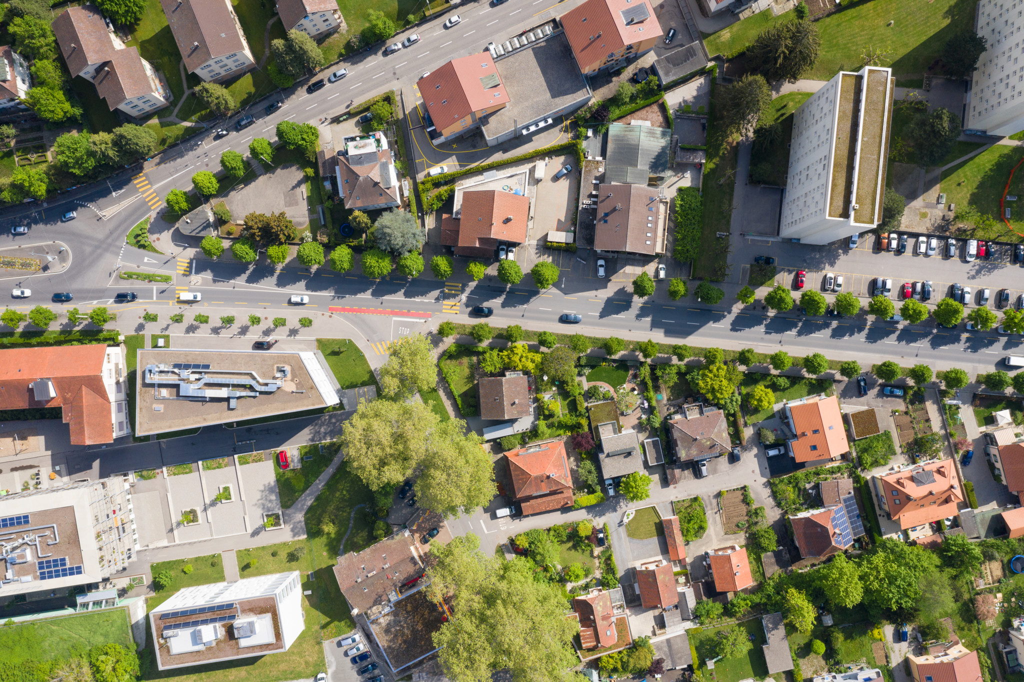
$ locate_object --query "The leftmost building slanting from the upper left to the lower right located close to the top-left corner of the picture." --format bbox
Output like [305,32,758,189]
[51,4,166,118]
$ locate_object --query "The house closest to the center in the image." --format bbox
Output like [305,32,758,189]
[479,373,530,420]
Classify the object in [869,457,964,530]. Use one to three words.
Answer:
house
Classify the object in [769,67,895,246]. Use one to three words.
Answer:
building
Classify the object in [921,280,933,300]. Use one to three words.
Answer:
vehicle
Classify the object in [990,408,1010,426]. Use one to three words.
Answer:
gazebo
